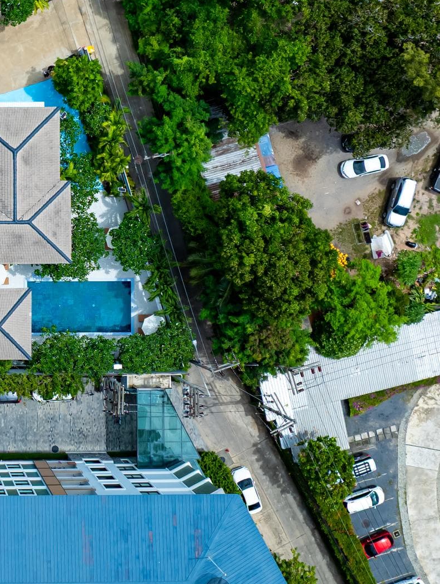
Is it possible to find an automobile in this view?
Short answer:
Yes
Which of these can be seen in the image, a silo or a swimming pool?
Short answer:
swimming pool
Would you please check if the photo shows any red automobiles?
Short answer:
Yes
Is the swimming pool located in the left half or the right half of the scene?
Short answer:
left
